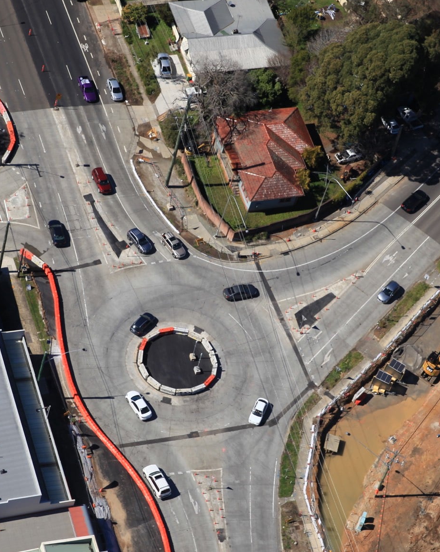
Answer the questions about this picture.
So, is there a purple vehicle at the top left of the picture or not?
Yes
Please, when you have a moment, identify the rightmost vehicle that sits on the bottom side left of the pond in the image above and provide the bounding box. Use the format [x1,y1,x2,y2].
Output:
[245,395,272,431]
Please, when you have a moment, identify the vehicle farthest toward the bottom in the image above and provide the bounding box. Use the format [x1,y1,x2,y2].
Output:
[143,464,174,502]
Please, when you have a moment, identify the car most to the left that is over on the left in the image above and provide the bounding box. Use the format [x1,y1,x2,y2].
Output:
[47,219,69,250]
